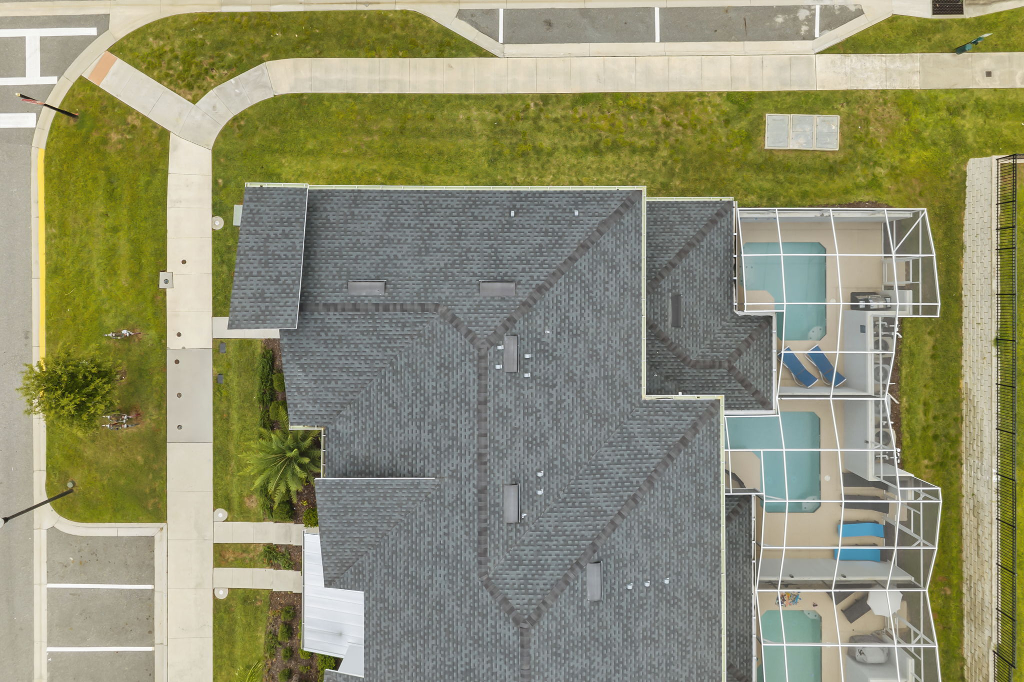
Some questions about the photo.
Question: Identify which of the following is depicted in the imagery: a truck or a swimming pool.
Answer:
swimming pool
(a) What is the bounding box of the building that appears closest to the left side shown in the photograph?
[228,183,780,682]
